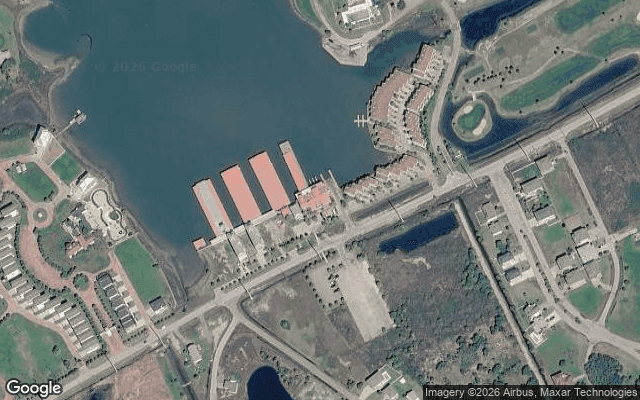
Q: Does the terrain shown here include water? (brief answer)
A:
Yes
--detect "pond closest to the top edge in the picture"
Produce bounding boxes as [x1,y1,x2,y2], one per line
[461,0,541,49]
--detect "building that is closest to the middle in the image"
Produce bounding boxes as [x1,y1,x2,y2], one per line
[298,184,331,213]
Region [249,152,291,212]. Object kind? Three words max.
shed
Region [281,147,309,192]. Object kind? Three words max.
shed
